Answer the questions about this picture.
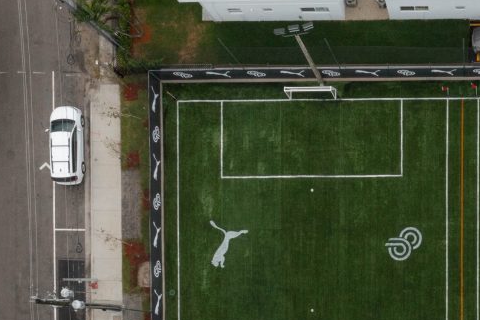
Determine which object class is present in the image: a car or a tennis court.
car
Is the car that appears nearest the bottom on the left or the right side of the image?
left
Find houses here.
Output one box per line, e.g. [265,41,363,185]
[177,0,344,20]
[383,0,480,20]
